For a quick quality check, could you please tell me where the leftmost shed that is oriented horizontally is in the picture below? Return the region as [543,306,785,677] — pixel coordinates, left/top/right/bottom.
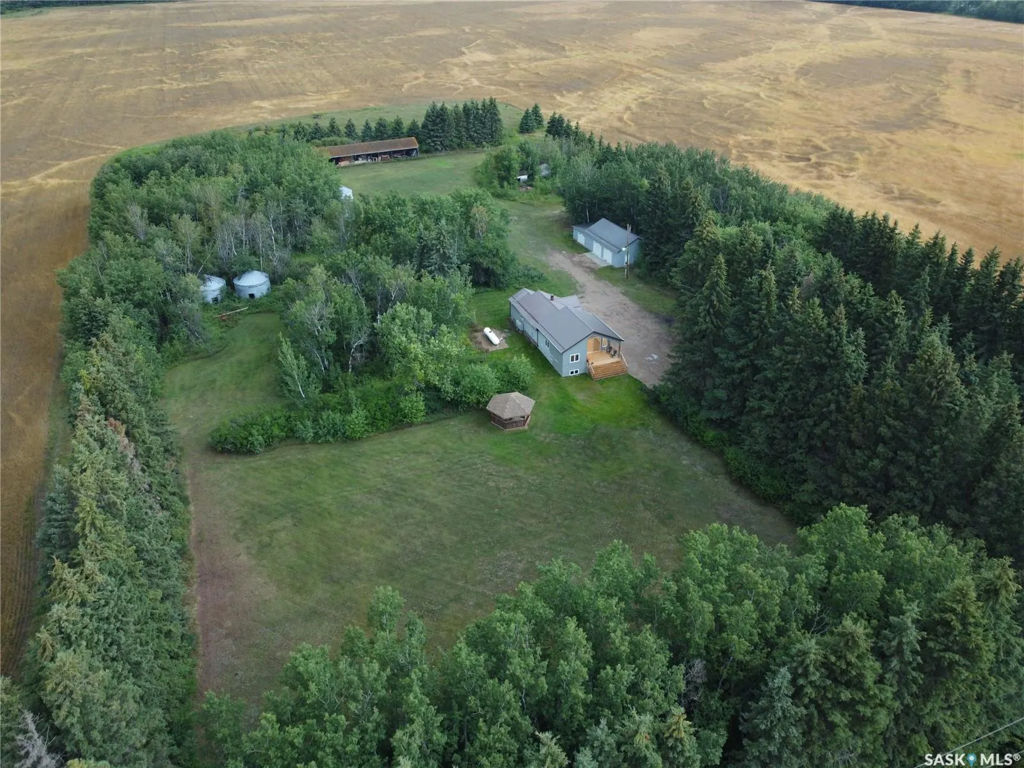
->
[320,136,421,164]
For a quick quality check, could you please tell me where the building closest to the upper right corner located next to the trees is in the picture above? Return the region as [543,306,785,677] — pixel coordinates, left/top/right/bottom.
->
[571,217,640,267]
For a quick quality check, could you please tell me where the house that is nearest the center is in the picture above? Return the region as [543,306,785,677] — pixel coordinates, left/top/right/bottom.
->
[509,287,630,380]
